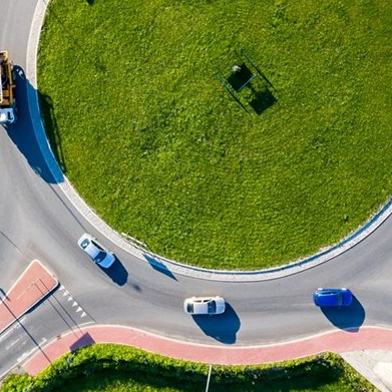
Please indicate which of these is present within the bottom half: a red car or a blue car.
blue car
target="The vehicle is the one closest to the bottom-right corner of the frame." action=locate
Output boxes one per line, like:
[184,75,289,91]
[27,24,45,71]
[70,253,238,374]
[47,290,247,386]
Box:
[315,287,352,307]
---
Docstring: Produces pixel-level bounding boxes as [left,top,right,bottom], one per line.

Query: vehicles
[0,49,20,124]
[315,287,352,307]
[78,232,115,266]
[186,295,224,315]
